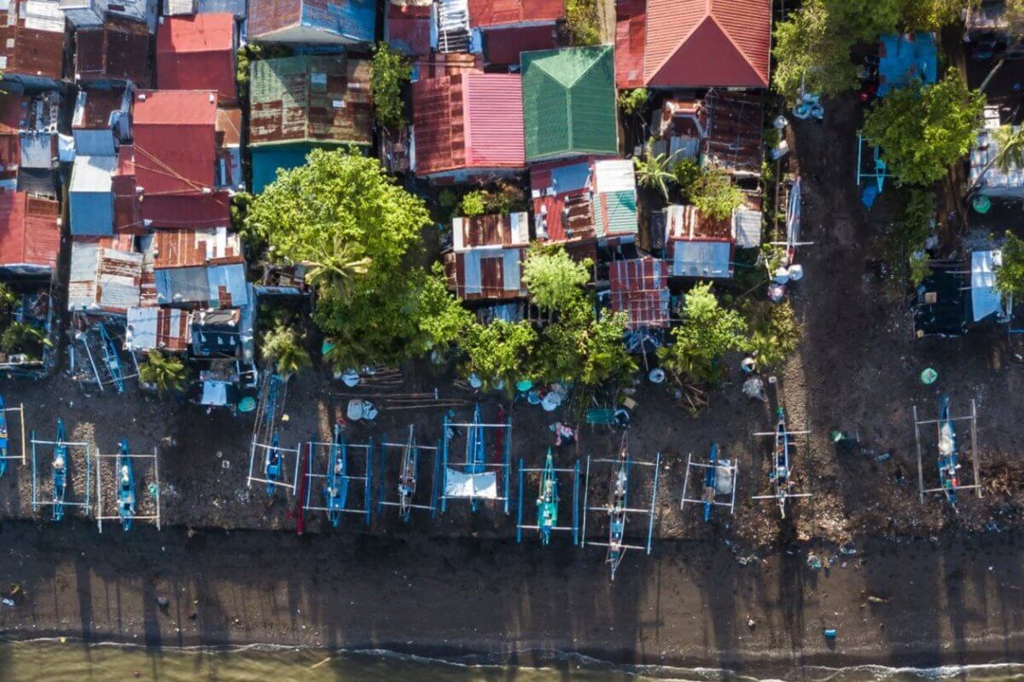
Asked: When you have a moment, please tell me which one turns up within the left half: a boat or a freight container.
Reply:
boat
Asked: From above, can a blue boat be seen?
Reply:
Yes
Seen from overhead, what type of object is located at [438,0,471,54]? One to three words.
shed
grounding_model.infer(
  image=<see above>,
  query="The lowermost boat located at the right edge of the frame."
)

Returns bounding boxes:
[914,396,982,514]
